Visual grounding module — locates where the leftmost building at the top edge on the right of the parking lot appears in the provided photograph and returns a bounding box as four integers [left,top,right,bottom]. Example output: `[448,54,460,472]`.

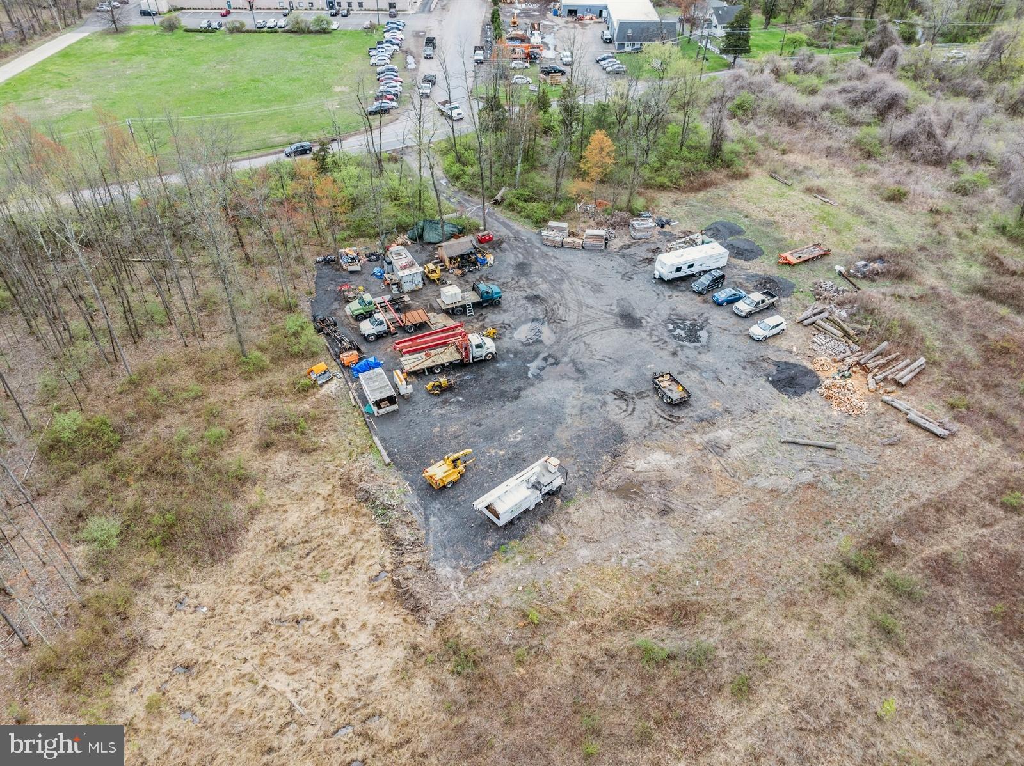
[558,0,678,50]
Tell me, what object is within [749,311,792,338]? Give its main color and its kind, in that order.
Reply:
white car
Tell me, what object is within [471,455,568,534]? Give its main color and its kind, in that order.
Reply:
white truck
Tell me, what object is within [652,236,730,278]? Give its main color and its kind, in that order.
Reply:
white vehicle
